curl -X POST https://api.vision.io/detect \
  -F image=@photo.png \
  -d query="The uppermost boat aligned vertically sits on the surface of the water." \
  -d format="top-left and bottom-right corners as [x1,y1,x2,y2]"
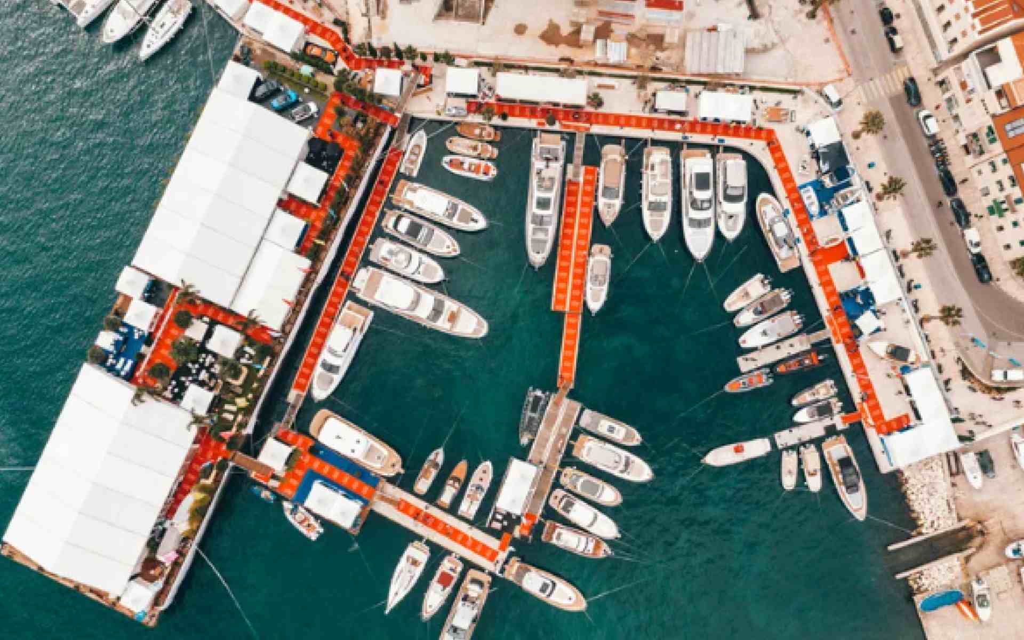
[402,130,427,179]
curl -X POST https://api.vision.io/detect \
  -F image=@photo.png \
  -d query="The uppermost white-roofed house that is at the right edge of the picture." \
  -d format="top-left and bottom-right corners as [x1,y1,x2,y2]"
[964,36,1024,94]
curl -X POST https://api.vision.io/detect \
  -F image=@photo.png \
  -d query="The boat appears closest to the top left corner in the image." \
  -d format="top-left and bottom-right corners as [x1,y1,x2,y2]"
[77,0,116,27]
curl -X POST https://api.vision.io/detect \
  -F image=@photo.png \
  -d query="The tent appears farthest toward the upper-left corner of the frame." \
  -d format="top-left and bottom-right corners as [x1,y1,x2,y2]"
[201,0,250,35]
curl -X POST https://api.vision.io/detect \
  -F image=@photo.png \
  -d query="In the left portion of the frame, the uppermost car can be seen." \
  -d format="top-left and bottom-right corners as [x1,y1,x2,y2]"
[304,42,337,65]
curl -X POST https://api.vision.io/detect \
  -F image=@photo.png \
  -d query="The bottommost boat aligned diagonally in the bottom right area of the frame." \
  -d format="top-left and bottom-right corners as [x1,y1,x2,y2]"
[955,599,976,621]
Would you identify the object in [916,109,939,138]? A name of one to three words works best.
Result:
car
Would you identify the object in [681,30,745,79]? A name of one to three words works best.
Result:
shed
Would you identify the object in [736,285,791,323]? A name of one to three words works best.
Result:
boat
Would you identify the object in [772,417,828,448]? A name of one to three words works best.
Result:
pier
